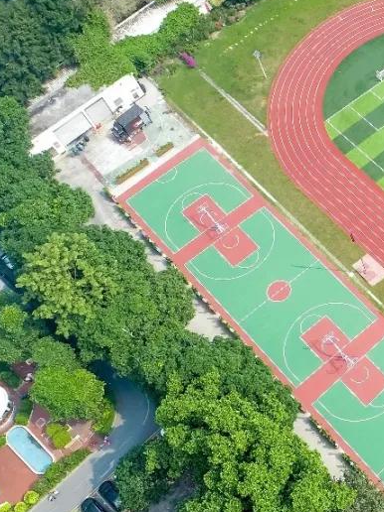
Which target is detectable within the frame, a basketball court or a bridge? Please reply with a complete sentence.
The one in the frame is a basketball court.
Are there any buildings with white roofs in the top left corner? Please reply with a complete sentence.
Yes, looking in the top left corner, one can make out a building with a white roof.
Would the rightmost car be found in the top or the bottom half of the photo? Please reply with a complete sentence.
The bottom half of the photo is where the rightmost car is.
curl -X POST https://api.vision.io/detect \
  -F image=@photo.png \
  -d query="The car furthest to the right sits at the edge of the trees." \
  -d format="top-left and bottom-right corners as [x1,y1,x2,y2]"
[99,484,129,512]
